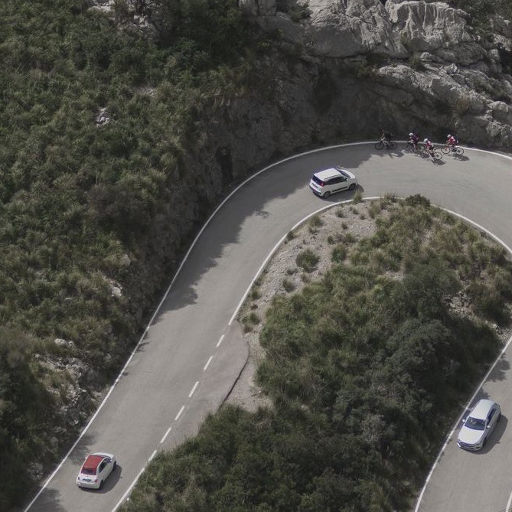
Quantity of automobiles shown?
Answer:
three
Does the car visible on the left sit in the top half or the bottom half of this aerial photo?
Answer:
bottom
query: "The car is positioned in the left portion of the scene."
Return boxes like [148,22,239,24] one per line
[80,451,120,489]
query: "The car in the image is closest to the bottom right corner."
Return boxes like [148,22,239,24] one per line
[457,401,501,452]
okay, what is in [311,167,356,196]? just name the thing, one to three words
car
